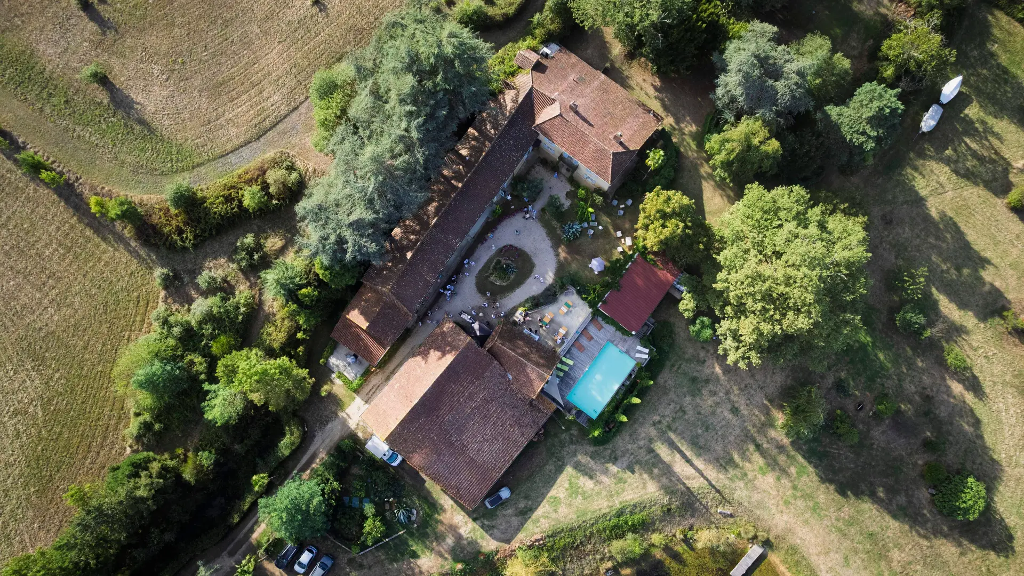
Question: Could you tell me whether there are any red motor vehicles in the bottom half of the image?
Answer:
No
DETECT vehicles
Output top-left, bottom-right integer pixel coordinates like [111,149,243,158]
[483,485,513,509]
[311,551,338,576]
[275,541,305,570]
[358,433,403,468]
[294,543,320,575]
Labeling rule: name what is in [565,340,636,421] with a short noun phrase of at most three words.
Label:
swimming pool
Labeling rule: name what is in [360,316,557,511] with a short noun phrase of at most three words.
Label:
barn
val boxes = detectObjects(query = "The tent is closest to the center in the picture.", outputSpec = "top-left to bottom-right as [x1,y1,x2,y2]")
[469,321,492,345]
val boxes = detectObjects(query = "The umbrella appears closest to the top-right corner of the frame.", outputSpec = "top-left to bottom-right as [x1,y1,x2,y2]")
[590,257,606,271]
